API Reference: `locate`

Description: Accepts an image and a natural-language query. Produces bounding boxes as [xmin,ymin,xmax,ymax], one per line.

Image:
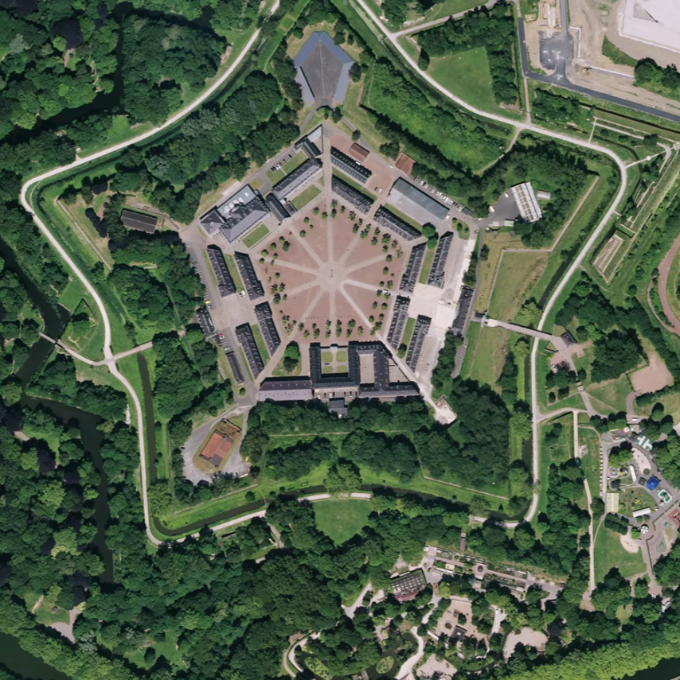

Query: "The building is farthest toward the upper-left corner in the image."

[119,208,159,232]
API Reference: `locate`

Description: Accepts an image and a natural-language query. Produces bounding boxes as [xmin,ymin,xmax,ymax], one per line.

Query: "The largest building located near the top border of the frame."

[294,30,354,106]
